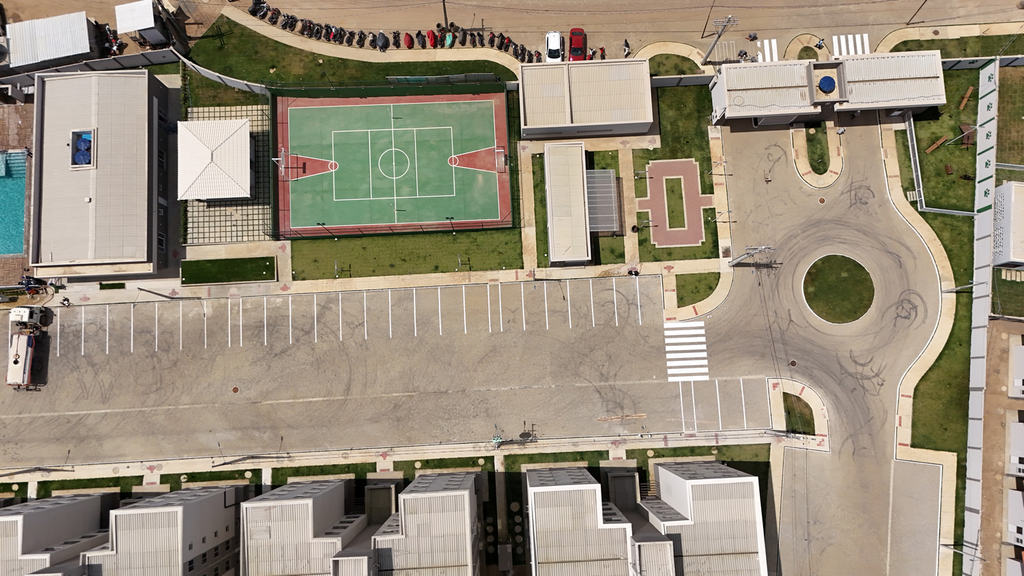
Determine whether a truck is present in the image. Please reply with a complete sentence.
Yes, there's a truck down there.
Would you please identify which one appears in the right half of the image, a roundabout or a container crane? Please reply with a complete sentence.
What appears in the right half of the image is a roundabout.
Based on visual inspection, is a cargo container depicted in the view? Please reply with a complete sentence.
No, there is no cargo container in the image.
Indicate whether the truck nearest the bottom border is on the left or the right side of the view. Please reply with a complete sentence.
The truck nearest the bottom border appears in the left half of the scene.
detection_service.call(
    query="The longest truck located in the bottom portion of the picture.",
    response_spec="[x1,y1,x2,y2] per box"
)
[1,306,47,395]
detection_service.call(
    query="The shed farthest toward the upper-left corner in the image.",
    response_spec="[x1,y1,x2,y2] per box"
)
[6,11,101,67]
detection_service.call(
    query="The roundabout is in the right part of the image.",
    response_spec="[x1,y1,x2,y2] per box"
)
[803,254,876,326]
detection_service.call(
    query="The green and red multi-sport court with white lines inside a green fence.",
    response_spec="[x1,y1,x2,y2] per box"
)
[276,91,512,236]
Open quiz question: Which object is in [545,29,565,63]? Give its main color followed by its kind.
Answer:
white car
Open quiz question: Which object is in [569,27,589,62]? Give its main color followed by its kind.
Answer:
red car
